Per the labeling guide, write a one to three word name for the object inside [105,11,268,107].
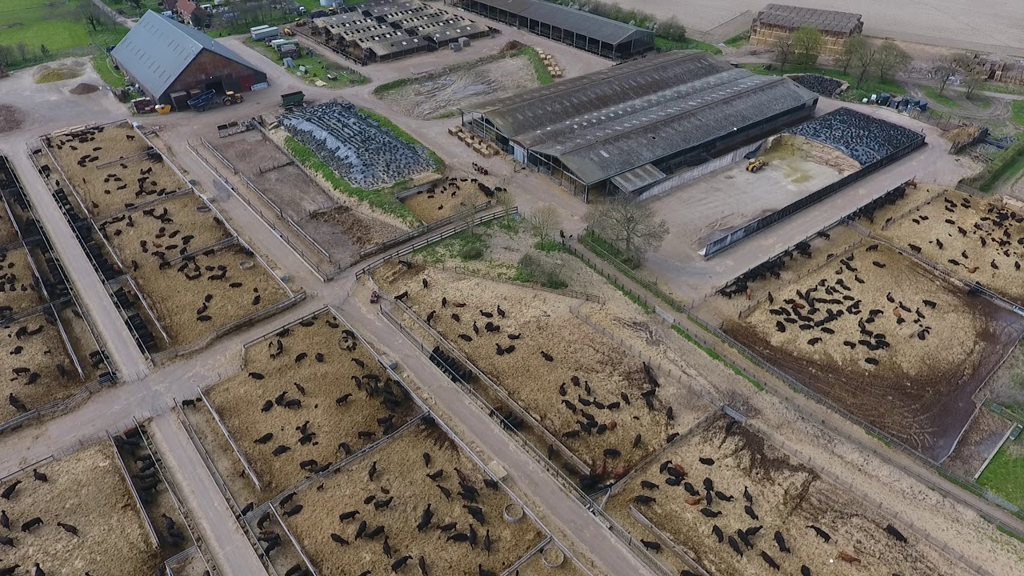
barn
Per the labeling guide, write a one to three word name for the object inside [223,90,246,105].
work vehicle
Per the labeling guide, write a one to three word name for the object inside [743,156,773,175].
work vehicle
